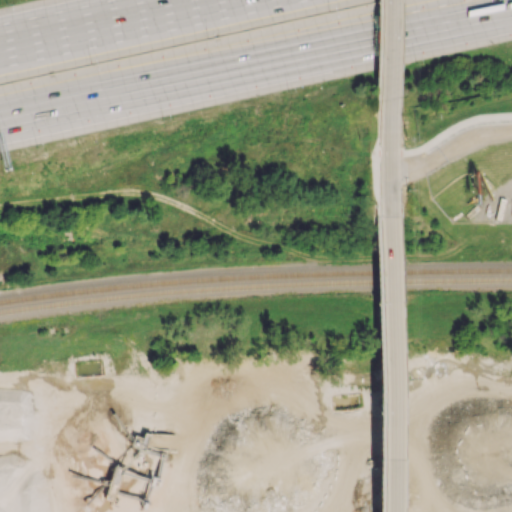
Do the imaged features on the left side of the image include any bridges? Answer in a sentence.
No, no bridge is visible on the left side of the image.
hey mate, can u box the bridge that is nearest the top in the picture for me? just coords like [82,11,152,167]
[378,0,404,99]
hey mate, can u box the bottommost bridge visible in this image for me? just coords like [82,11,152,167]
[378,218,408,512]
